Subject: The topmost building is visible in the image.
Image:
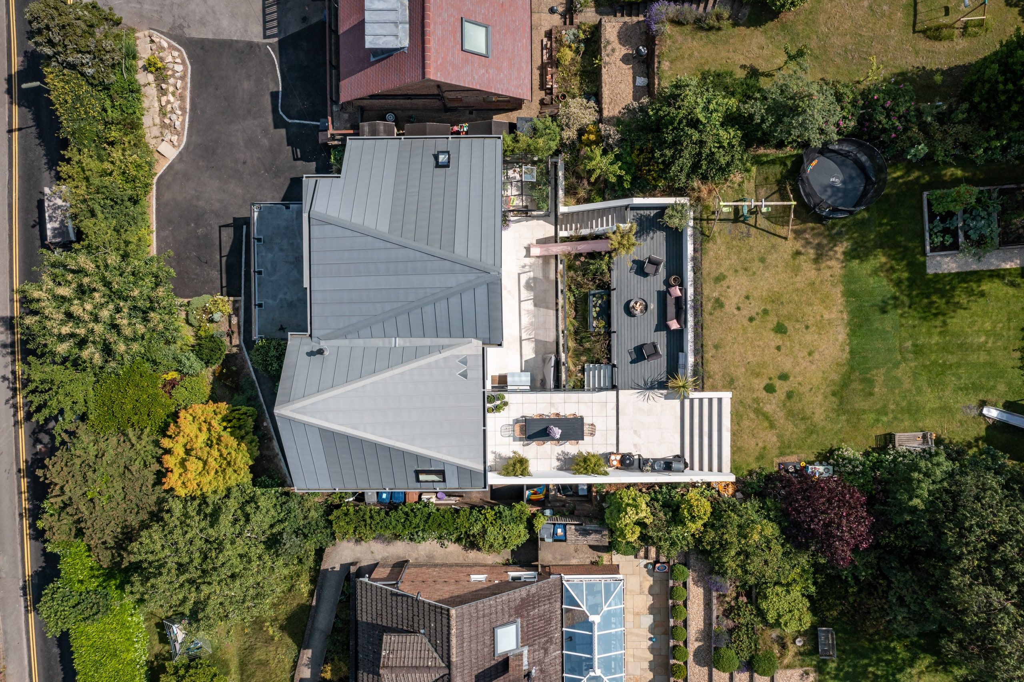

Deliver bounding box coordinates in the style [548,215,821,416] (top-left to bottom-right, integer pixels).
[337,0,533,114]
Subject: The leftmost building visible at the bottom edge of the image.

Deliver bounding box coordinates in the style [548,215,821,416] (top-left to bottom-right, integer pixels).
[353,559,564,682]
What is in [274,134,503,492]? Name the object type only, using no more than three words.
house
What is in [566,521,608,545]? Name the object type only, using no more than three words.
building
